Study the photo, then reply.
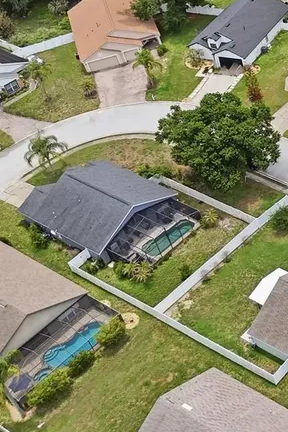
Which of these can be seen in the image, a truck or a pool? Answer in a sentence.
This aerial view contains a pool.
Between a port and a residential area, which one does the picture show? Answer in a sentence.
It's a residential area.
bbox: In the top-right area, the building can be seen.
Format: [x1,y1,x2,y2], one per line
[184,0,288,68]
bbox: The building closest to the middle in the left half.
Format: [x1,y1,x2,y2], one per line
[13,160,174,262]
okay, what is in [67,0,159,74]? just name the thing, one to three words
house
